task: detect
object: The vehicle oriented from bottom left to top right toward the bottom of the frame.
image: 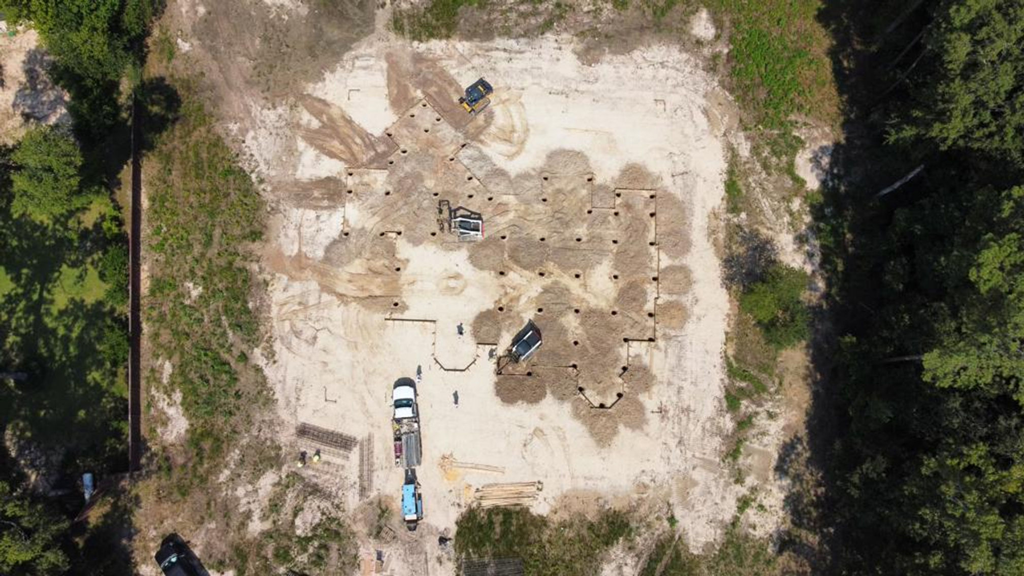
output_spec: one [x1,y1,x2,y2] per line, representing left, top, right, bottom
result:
[497,330,542,372]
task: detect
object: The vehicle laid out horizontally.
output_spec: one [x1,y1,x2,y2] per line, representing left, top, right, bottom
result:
[439,217,486,237]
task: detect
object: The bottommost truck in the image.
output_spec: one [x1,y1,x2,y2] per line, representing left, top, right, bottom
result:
[161,538,209,576]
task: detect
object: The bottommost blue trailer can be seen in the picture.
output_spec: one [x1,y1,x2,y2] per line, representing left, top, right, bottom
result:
[401,468,424,530]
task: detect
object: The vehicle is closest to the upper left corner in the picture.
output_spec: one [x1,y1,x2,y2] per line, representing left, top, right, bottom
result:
[457,79,492,117]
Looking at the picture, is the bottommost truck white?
No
